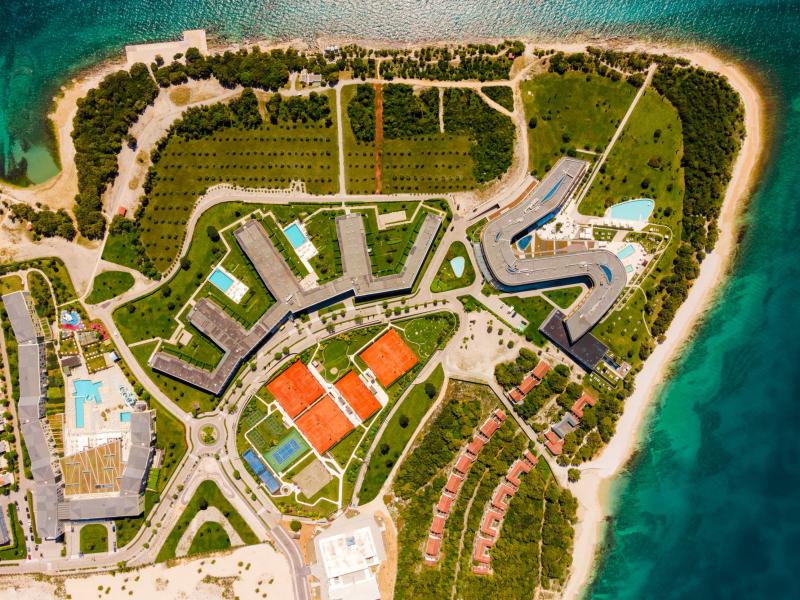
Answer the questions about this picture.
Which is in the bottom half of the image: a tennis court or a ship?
tennis court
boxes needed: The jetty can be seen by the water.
[125,28,207,64]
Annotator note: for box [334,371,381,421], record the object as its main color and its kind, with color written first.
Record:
orange tennis court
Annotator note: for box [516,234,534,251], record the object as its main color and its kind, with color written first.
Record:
blue swimming pool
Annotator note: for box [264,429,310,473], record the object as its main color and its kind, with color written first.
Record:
green tennis court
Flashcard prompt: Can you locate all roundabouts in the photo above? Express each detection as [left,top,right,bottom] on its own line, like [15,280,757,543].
[191,417,226,452]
